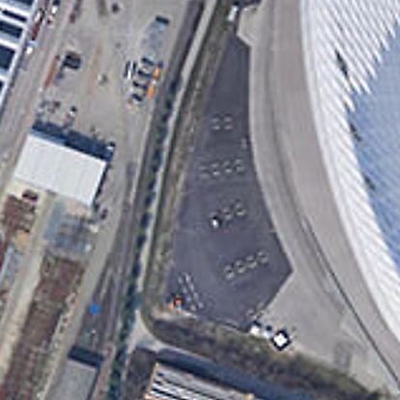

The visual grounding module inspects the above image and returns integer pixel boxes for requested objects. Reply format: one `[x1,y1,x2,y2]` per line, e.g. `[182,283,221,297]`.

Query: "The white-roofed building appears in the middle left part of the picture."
[15,135,109,206]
